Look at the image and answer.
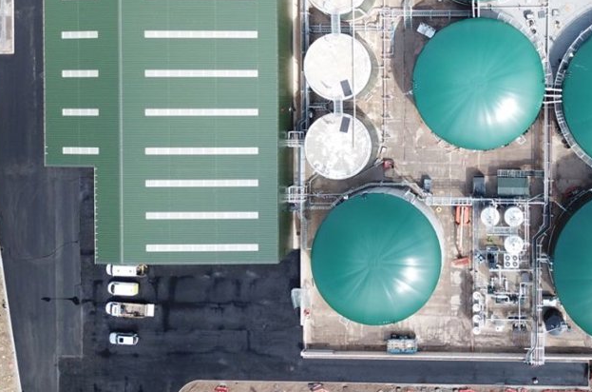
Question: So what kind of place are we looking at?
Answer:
industrial area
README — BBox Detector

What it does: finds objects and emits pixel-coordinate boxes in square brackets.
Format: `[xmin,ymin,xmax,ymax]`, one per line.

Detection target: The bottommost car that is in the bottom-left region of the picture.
[107,332,136,347]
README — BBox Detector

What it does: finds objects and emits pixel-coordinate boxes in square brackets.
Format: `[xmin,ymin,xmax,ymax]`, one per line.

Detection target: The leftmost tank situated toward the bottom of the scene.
[308,185,443,324]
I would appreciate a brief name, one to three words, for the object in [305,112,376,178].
storage tank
